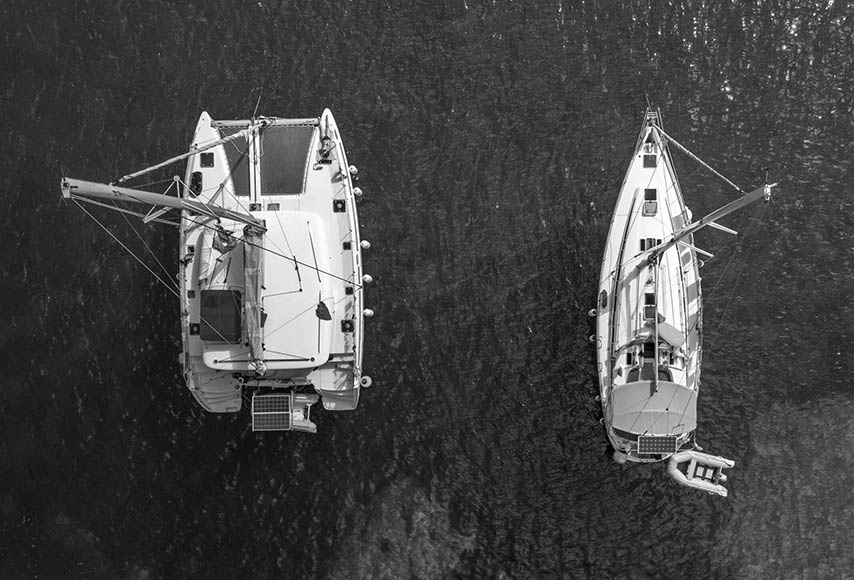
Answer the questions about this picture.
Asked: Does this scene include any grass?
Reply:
No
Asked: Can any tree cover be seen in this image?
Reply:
No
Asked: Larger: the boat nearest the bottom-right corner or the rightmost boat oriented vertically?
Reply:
the rightmost boat oriented vertically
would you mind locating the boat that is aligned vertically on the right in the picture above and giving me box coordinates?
[596,95,782,462]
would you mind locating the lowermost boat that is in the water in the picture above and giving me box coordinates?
[666,451,736,501]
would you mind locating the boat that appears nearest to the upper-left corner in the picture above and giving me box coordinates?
[44,95,365,431]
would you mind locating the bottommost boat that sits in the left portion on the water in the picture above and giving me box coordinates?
[249,392,321,433]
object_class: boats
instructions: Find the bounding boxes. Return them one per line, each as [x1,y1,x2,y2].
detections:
[44,95,365,431]
[249,392,321,433]
[666,451,736,501]
[596,95,782,462]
